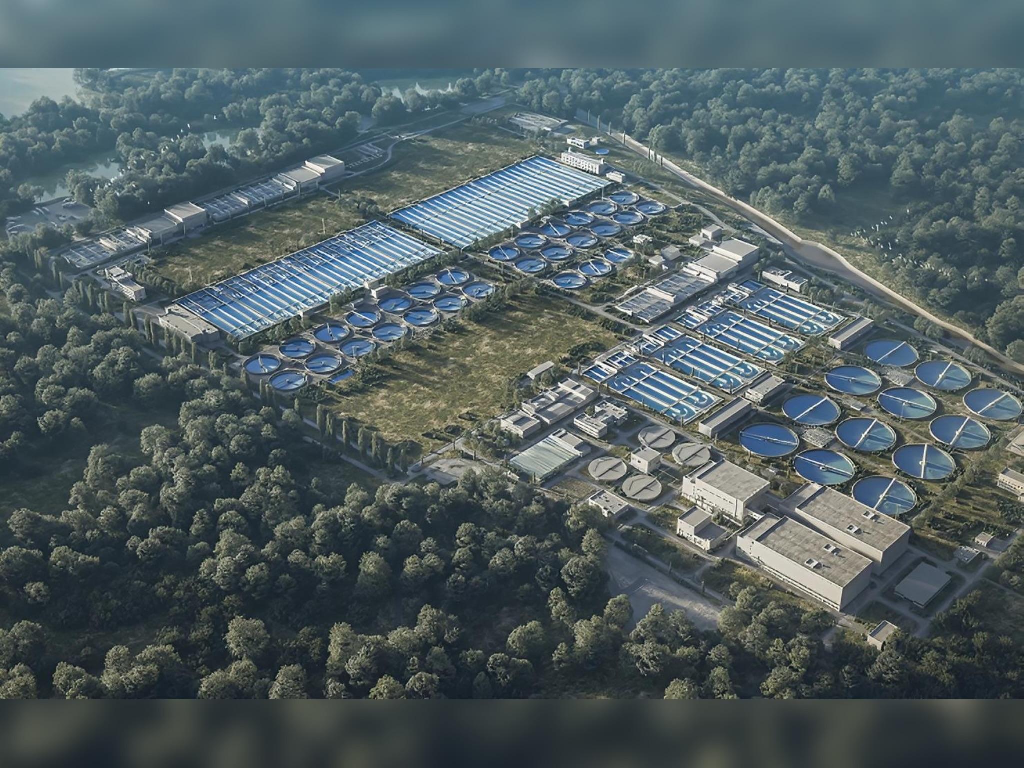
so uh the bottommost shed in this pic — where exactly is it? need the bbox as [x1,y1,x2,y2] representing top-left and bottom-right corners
[872,620,898,650]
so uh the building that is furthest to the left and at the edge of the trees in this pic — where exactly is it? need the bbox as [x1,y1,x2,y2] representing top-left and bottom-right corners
[103,268,146,302]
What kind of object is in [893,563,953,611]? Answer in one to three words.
building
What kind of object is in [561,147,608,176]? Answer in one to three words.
house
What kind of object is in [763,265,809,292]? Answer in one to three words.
building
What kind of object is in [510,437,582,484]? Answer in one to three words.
greenhouse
